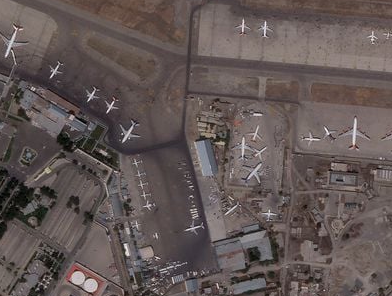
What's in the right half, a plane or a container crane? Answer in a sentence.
You can see a plane in the right half.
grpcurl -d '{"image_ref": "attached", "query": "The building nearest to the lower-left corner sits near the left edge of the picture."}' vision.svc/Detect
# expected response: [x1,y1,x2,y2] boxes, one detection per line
[13,259,46,296]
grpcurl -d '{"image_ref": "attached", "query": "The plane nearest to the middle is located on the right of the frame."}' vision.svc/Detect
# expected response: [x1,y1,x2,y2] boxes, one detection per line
[231,137,255,161]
